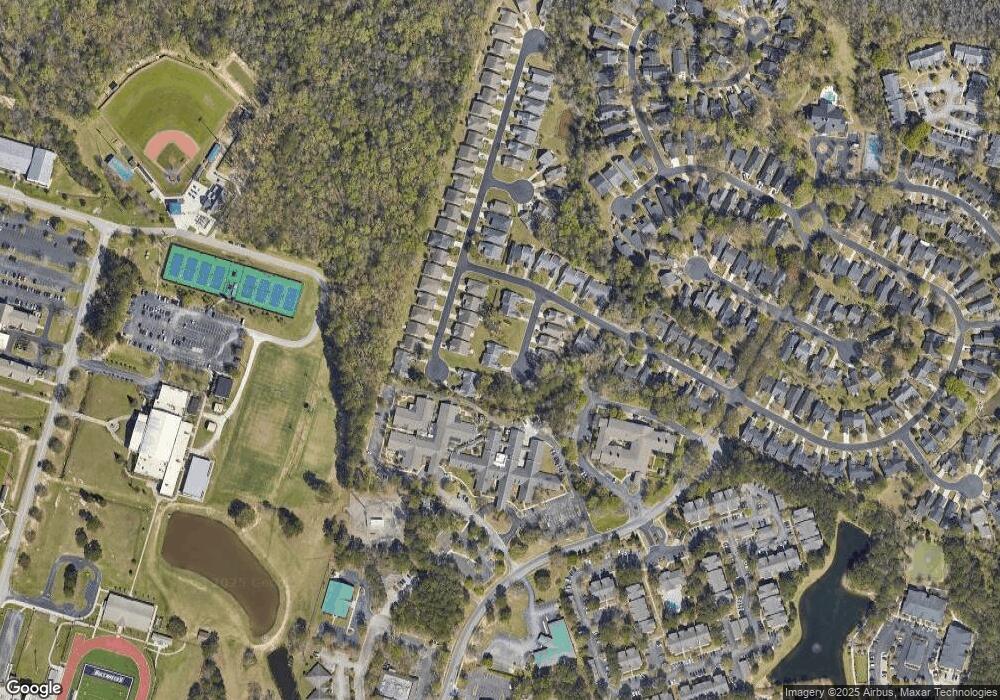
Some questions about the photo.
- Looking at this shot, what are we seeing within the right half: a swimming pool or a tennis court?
swimming pool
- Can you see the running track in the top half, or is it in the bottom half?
bottom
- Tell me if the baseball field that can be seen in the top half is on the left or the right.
left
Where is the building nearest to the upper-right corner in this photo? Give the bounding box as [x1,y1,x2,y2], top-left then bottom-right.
[951,44,992,64]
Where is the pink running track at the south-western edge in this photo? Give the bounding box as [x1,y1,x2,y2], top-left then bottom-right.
[57,634,150,700]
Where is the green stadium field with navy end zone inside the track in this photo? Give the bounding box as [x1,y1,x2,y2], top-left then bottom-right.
[68,645,139,700]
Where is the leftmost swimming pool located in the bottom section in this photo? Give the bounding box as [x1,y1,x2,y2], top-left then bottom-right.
[660,590,683,612]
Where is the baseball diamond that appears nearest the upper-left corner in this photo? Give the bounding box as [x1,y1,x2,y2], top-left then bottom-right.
[99,57,239,196]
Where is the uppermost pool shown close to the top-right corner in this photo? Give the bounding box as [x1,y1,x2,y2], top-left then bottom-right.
[820,86,837,104]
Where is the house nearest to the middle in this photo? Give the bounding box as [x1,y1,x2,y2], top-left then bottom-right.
[481,343,506,365]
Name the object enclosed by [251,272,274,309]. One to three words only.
tennis court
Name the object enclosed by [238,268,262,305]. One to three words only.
tennis court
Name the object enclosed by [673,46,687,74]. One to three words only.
house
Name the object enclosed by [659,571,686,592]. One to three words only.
building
